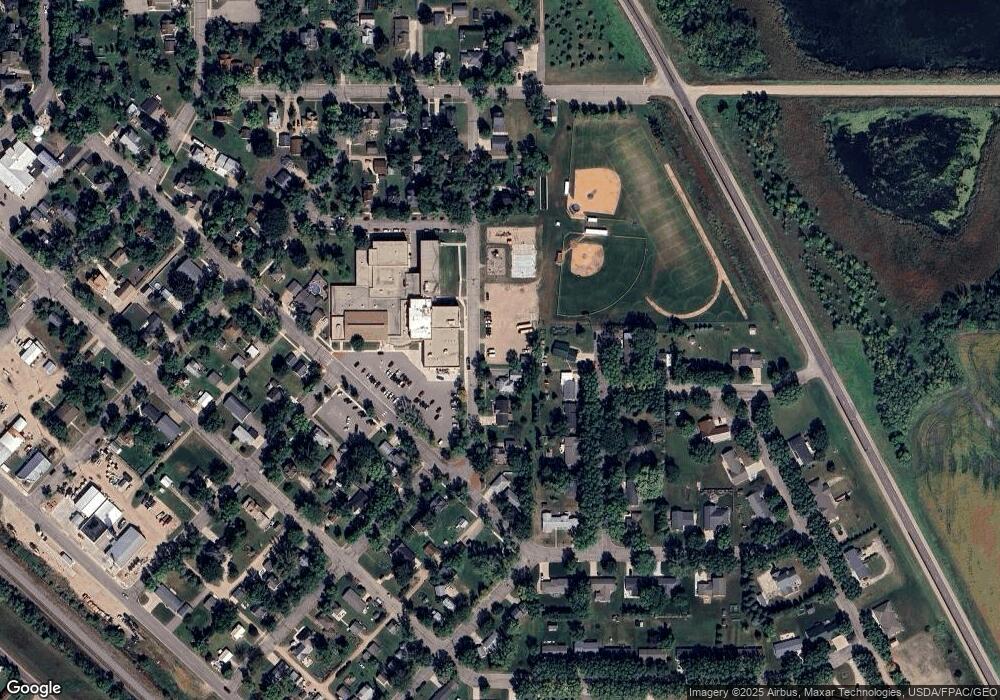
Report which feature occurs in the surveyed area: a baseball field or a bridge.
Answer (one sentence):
Visible in the photo is a baseball field.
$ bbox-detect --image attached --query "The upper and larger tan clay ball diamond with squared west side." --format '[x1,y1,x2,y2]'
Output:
[566,168,620,220]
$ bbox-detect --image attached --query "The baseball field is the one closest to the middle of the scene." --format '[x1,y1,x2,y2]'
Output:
[570,240,604,276]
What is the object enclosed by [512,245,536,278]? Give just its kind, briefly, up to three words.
sports court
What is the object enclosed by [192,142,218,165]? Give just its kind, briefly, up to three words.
house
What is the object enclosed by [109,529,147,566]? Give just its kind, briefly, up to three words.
barn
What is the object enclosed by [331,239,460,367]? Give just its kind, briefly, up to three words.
building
